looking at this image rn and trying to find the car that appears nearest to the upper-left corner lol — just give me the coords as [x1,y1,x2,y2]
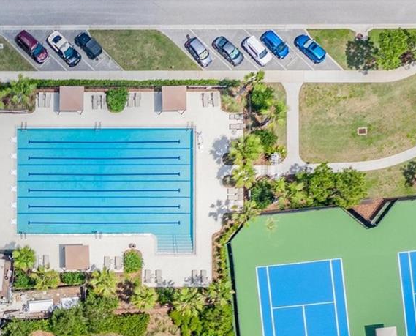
[15,29,48,65]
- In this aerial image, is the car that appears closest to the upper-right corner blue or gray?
blue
